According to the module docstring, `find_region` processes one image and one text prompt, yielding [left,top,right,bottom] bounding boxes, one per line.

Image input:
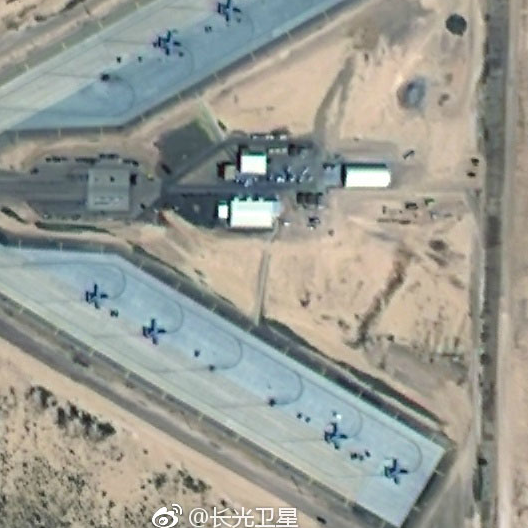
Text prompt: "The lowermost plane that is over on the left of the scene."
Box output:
[142,319,166,344]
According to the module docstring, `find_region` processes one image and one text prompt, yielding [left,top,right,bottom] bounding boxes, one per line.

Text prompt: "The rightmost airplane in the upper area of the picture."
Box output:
[217,0,241,21]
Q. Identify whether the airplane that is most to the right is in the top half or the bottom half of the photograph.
bottom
